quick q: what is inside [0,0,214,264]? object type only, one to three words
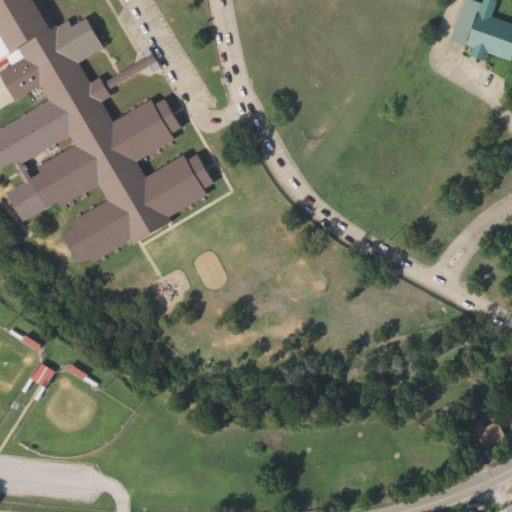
building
